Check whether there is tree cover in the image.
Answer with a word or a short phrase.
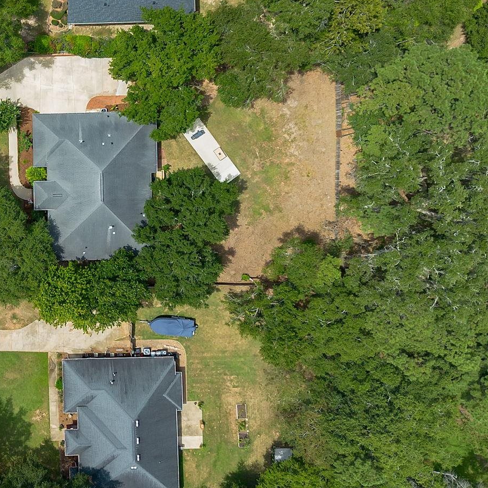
Yes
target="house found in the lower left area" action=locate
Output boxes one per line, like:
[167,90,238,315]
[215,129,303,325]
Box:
[61,356,183,488]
